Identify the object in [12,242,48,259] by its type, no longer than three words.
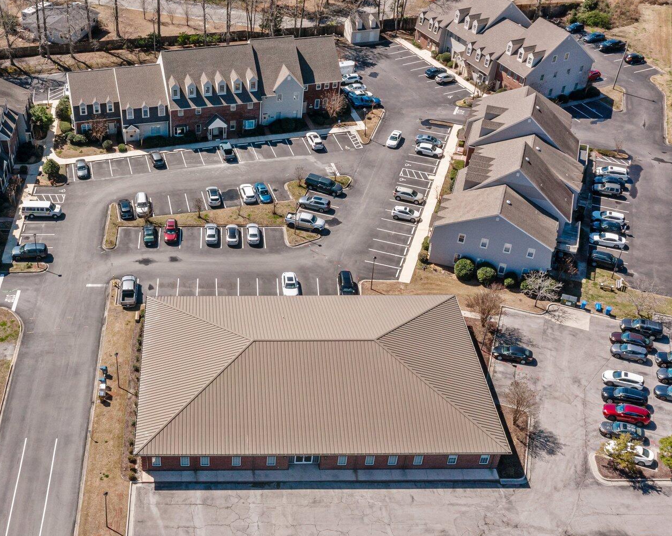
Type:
car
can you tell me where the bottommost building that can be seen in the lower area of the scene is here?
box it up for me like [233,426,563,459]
[133,295,513,469]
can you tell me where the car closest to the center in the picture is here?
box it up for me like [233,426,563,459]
[337,269,356,296]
